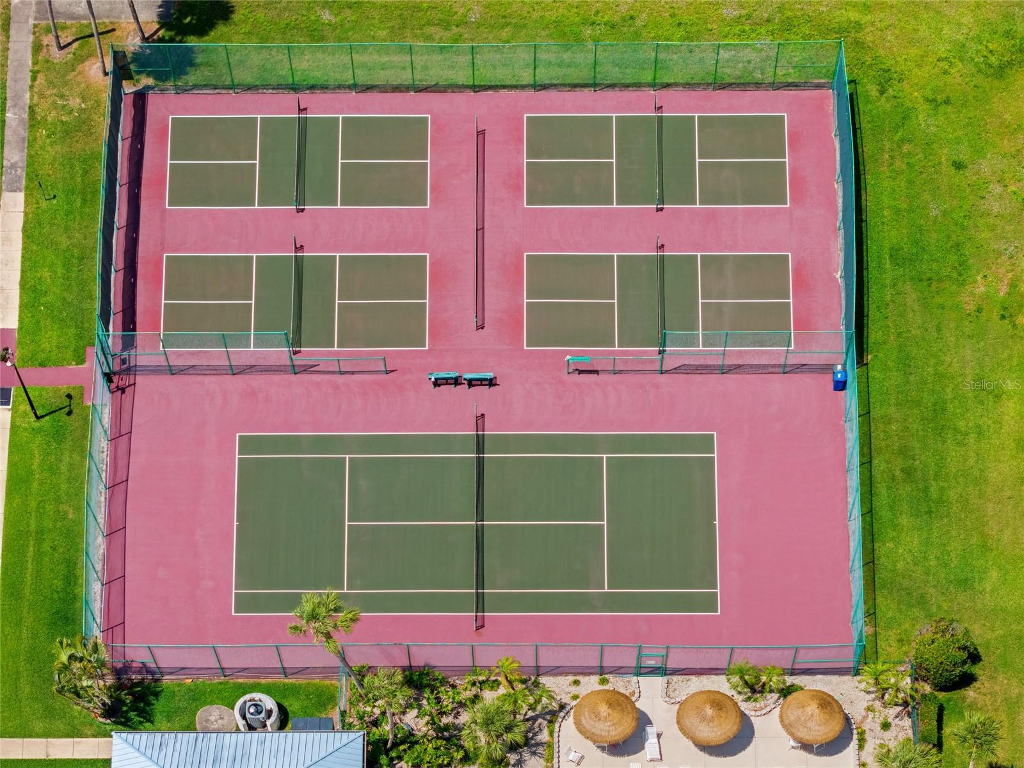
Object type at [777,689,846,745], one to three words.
umbrella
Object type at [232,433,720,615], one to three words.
tennis court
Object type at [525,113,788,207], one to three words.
sports court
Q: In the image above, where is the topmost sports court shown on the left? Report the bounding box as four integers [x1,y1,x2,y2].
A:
[166,114,430,208]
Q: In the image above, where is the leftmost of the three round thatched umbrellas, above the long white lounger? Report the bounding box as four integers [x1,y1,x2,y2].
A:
[572,688,641,744]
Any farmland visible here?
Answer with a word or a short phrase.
No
